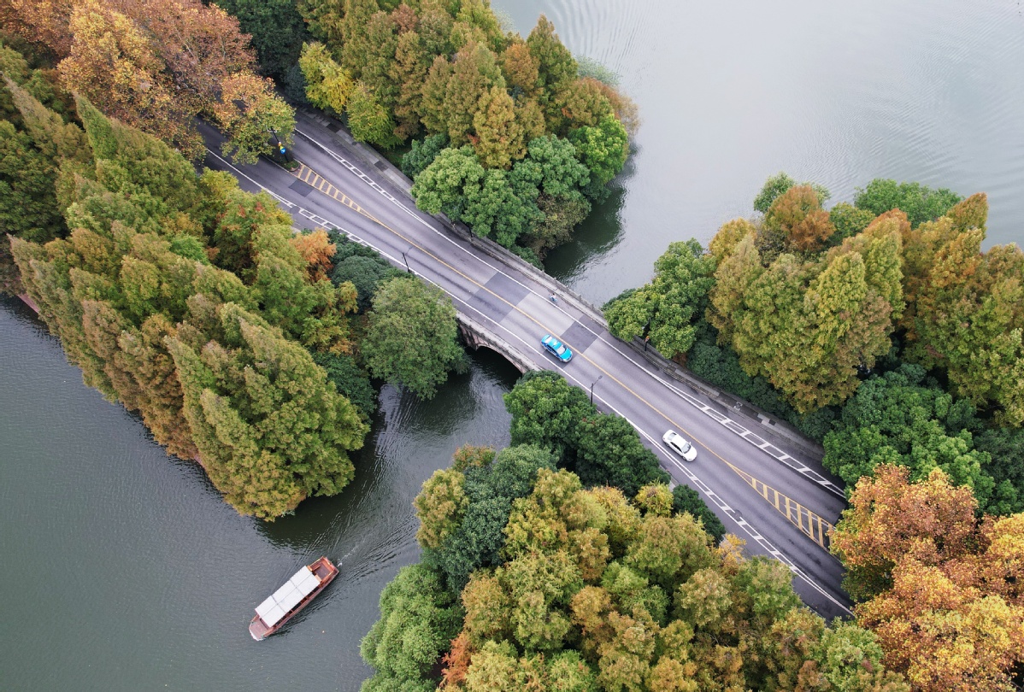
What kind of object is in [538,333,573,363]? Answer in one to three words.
car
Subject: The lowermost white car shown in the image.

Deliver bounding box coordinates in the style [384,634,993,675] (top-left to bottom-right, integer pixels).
[659,426,699,463]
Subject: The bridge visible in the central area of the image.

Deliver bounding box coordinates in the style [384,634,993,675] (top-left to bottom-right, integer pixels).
[430,203,648,392]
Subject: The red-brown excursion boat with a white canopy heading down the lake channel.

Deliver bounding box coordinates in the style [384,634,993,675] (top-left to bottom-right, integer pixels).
[248,556,340,642]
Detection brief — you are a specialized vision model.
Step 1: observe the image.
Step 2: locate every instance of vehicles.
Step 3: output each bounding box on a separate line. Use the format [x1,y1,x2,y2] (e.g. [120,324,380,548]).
[538,333,573,363]
[659,426,699,463]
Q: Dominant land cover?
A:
trees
